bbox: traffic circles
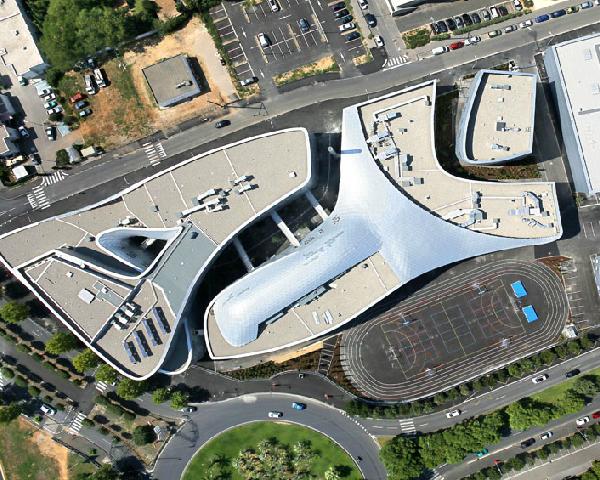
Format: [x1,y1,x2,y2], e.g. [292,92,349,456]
[151,394,392,480]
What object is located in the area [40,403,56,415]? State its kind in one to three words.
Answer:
vehicle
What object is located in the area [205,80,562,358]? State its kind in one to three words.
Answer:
building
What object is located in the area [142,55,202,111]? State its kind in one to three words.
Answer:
building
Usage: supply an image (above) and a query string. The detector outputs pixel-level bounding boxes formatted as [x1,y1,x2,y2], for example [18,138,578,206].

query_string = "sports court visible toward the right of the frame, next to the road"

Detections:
[342,257,570,401]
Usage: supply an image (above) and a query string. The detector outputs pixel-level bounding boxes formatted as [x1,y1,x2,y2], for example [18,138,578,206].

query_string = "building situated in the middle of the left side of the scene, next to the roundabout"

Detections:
[0,128,309,379]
